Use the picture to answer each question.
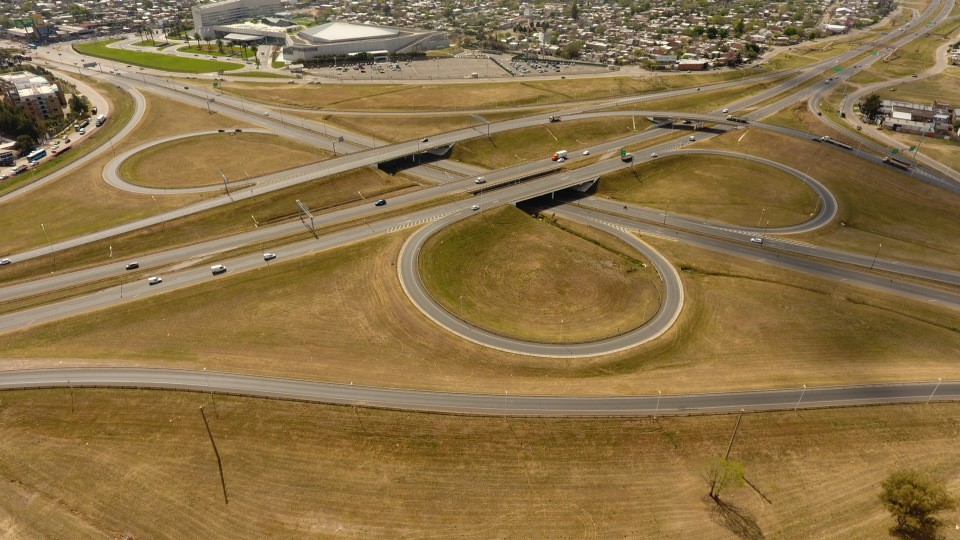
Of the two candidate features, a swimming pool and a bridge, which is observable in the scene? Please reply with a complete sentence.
It is a bridge that can be seen here.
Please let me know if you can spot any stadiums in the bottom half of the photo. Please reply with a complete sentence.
No, no stadium is visible in the bottom half of the photo.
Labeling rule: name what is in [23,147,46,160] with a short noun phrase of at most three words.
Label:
vehicle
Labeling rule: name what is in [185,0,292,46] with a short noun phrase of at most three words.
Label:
building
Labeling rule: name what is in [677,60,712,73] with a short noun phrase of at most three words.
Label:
building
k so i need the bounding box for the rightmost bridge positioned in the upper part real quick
[638,111,742,135]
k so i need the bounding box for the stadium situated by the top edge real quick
[282,20,450,66]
